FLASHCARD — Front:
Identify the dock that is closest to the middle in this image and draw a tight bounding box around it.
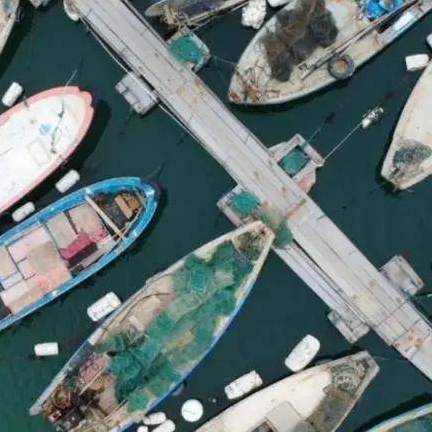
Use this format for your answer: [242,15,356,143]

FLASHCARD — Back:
[216,187,271,228]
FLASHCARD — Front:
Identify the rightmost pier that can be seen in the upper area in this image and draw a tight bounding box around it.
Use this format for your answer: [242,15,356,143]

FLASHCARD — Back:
[266,133,323,185]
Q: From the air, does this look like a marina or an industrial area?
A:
marina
